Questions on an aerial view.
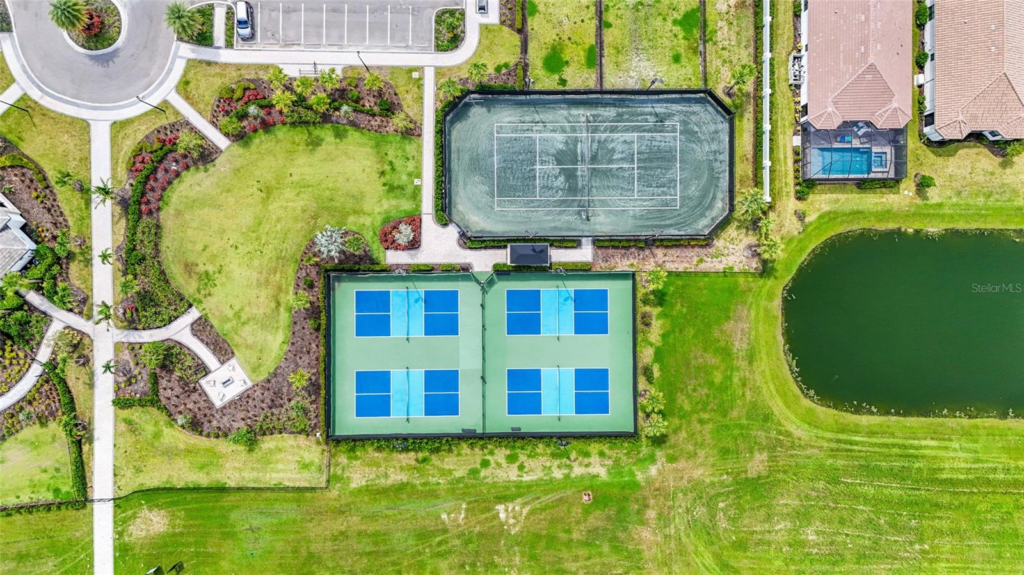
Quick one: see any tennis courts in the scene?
Yes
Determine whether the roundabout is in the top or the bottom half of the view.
top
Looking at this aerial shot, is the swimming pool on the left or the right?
right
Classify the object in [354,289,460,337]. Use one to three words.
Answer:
sports court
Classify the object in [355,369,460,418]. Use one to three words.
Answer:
sports court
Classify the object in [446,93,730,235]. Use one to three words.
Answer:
tennis court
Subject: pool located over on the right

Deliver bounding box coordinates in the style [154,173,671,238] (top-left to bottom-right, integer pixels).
[801,122,894,177]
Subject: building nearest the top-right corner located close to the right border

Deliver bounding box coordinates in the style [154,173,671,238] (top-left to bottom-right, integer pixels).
[924,0,1024,140]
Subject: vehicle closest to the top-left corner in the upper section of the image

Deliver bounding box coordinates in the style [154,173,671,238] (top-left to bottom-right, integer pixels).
[234,1,253,38]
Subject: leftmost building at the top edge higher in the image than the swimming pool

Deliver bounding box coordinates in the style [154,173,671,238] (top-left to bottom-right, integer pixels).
[801,0,912,130]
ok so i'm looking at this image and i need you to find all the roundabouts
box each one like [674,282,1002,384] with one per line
[5,0,180,110]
